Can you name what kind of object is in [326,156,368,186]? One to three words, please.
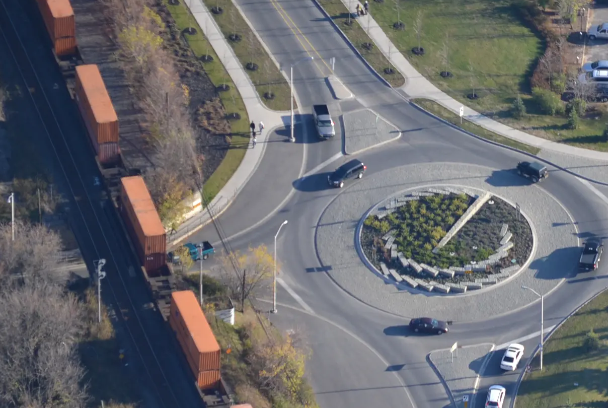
car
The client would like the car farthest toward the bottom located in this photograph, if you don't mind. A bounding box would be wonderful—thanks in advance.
[485,381,507,408]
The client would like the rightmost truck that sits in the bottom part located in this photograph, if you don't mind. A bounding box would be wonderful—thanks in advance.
[580,235,603,269]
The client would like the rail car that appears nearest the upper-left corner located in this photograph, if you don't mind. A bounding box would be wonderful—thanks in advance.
[32,0,82,85]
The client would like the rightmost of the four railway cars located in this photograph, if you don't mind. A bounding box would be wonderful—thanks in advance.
[163,295,229,408]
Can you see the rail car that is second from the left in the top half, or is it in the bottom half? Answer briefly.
top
